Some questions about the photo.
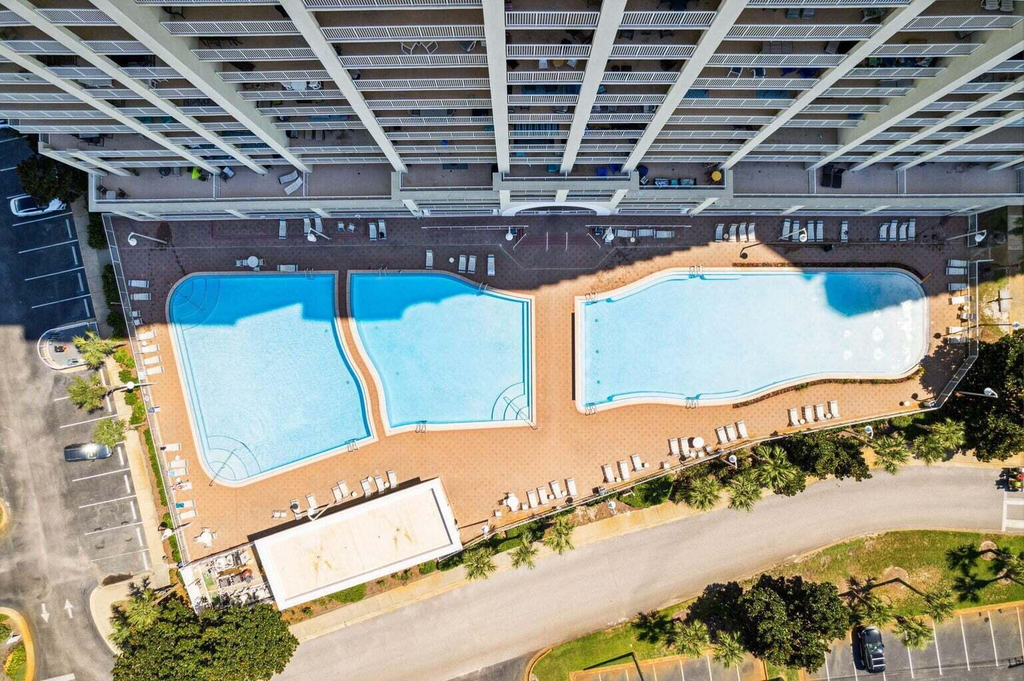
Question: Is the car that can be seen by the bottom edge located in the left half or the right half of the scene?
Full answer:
The car that can be seen by the bottom edge appears in the right half of the scene.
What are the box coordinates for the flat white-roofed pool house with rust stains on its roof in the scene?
[254,475,463,610]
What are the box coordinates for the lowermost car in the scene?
[856,619,885,673]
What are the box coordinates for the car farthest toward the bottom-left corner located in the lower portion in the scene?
[64,440,120,464]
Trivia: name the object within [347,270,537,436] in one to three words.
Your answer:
swimming pool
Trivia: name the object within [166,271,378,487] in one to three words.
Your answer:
swimming pool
